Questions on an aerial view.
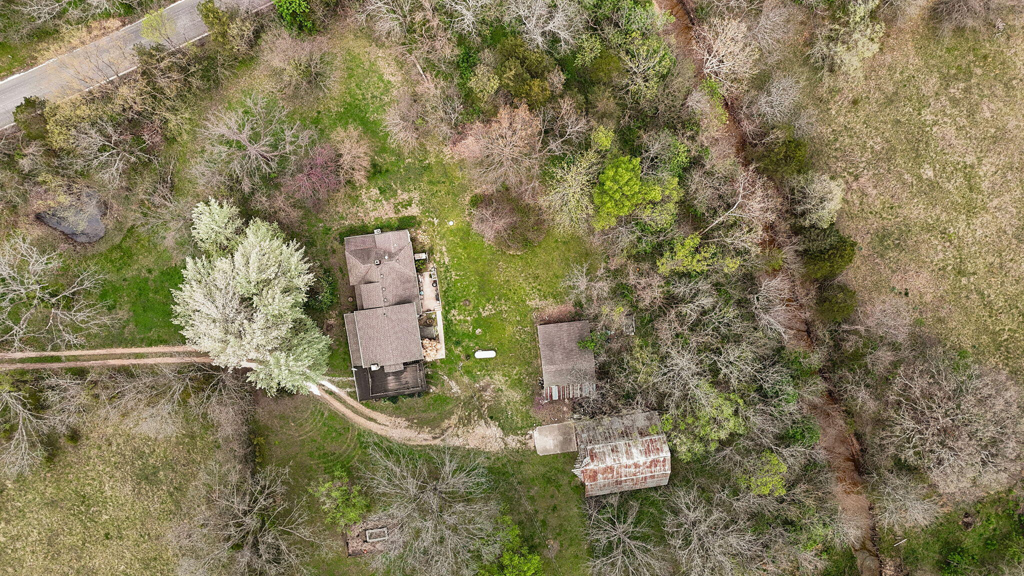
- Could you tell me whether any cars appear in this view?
No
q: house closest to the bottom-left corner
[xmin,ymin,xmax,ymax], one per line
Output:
[343,229,427,401]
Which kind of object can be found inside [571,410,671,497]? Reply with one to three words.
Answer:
barn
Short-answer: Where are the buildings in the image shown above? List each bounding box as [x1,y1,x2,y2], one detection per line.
[571,410,671,497]
[343,229,427,401]
[537,320,596,402]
